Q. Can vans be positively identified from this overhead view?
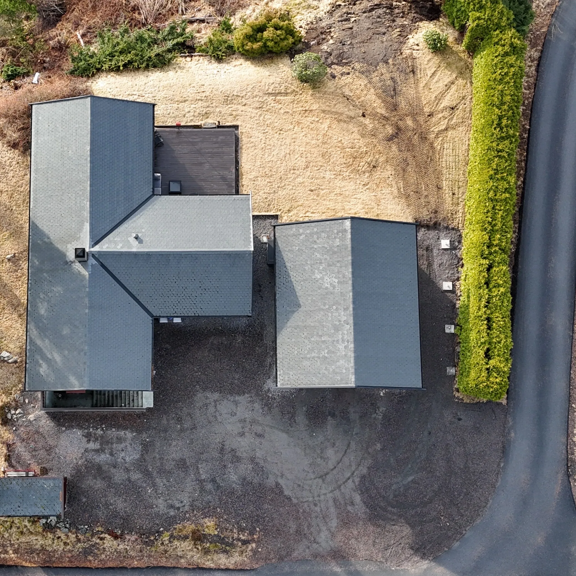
No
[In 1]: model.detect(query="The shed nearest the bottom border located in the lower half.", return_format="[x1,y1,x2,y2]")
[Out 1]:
[0,475,69,522]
